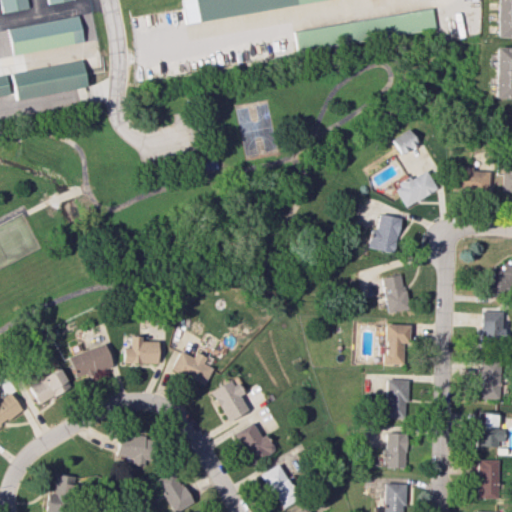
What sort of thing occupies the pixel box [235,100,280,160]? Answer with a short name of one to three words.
basketball court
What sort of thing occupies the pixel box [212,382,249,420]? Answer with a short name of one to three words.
house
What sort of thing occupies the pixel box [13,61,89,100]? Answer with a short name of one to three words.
shed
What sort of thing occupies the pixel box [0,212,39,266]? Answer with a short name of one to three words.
sports court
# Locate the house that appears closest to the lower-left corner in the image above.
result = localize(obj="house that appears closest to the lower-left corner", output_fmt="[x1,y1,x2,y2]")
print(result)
[46,476,76,512]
